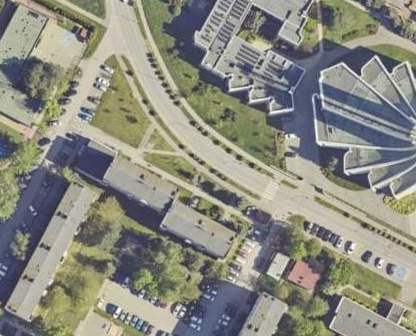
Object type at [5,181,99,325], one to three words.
building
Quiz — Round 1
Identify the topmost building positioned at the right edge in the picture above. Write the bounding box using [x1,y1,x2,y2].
[312,56,416,205]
